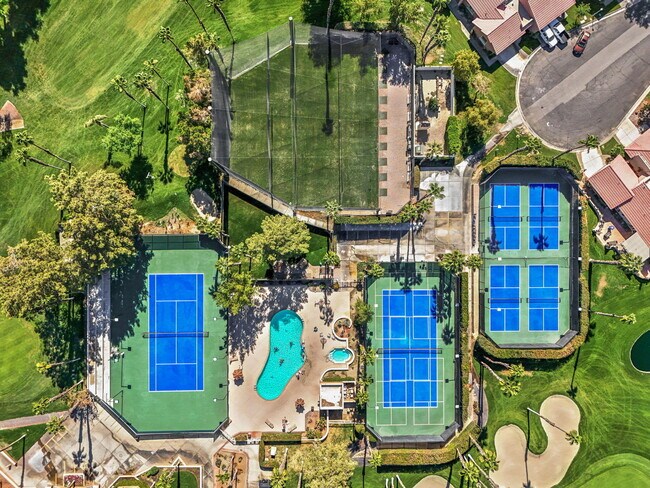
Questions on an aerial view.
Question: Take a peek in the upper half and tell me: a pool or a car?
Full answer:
The feature located in the upper half is a car.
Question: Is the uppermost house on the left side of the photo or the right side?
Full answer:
You can find the uppermost house on the right side of the picture.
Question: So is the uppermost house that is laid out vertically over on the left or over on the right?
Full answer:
The uppermost house that is laid out vertically is on the right side of the image.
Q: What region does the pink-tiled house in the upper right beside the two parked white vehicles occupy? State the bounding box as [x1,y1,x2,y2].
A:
[448,0,577,58]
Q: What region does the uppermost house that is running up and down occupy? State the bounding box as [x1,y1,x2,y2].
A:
[581,108,650,261]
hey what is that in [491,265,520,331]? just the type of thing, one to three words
sports court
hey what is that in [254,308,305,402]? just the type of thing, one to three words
swimming pool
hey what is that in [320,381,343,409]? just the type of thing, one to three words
building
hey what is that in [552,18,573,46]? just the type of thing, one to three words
vehicle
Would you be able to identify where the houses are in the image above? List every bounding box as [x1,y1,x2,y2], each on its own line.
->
[581,108,650,261]
[448,0,577,58]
